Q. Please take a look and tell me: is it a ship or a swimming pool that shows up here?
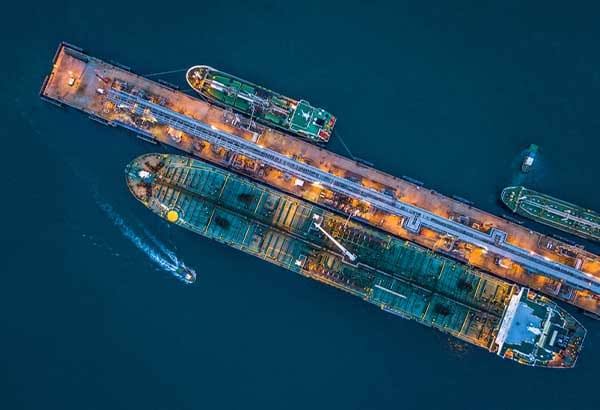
ship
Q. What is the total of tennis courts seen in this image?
none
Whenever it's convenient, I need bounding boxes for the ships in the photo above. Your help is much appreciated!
[499,186,600,240]
[122,152,587,367]
[185,64,338,143]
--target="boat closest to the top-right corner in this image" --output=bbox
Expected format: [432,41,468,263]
[521,145,537,171]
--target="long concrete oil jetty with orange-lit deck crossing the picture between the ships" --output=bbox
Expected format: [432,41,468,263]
[42,45,600,316]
